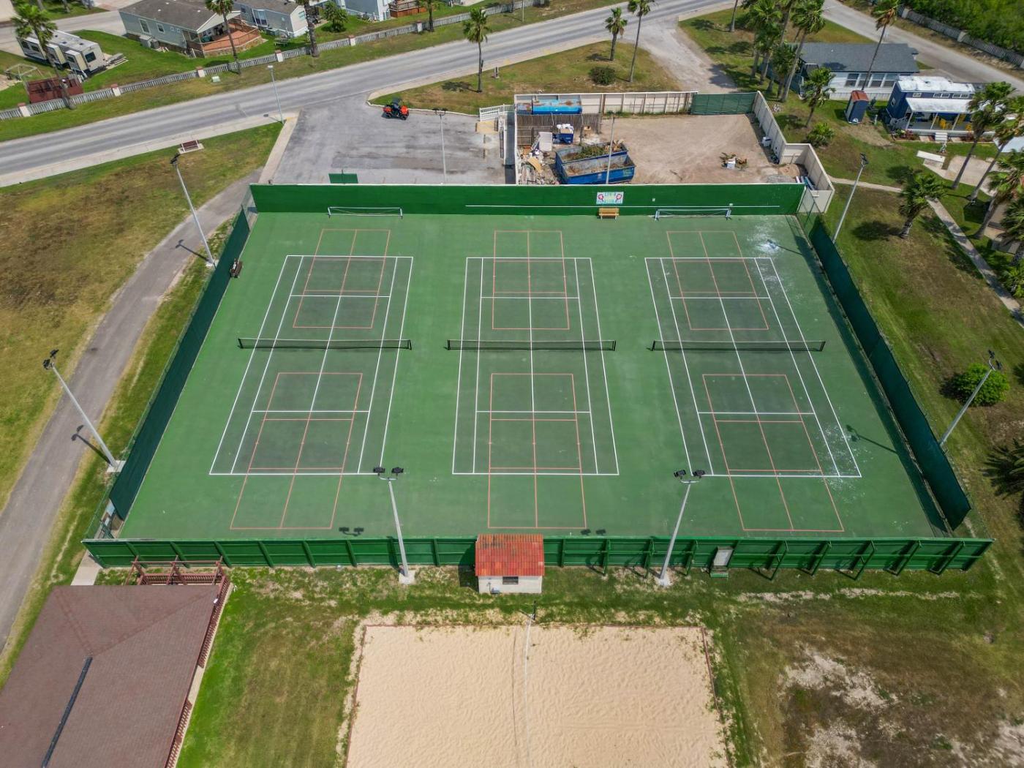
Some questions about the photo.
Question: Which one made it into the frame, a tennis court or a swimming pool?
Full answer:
Of the two, only a tennis court appears.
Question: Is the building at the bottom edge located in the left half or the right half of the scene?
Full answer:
The building at the bottom edge appears in the left half of the scene.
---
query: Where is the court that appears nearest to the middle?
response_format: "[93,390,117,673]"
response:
[451,230,620,529]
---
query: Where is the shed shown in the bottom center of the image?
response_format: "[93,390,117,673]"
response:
[474,529,546,593]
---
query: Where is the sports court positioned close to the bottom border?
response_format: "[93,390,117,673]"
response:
[341,623,732,768]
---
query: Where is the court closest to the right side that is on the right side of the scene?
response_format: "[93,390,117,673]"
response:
[646,231,860,530]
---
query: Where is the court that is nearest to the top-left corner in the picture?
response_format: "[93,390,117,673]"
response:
[210,230,413,528]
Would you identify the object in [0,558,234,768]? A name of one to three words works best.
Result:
building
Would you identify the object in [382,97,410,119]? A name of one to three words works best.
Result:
vehicle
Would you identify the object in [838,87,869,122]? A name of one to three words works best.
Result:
shed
